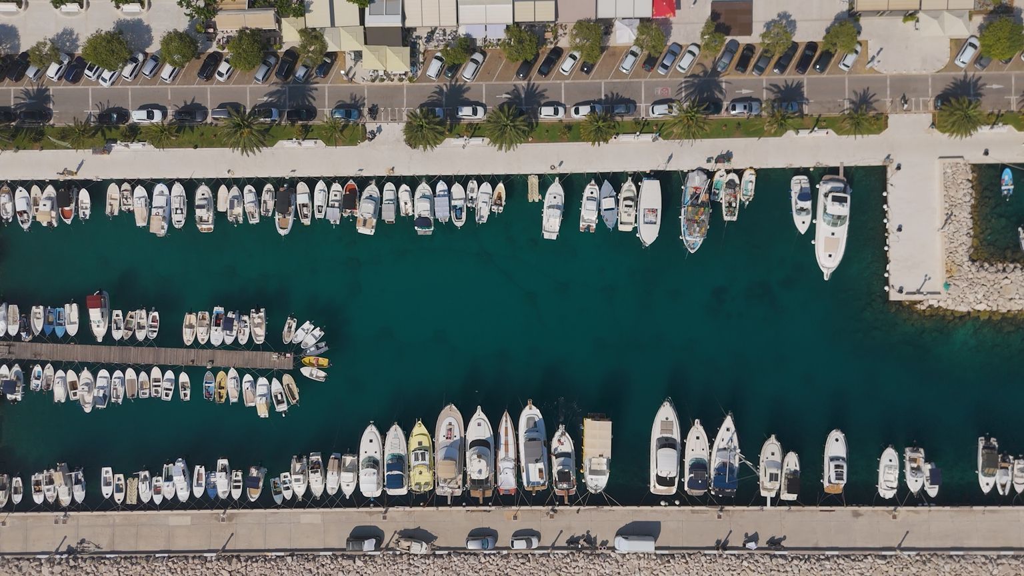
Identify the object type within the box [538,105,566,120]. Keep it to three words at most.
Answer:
car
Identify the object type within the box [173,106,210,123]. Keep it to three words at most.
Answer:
car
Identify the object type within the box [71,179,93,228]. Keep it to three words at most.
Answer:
boat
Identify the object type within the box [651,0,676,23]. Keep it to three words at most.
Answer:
tent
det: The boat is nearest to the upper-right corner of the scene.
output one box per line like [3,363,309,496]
[999,168,1013,201]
